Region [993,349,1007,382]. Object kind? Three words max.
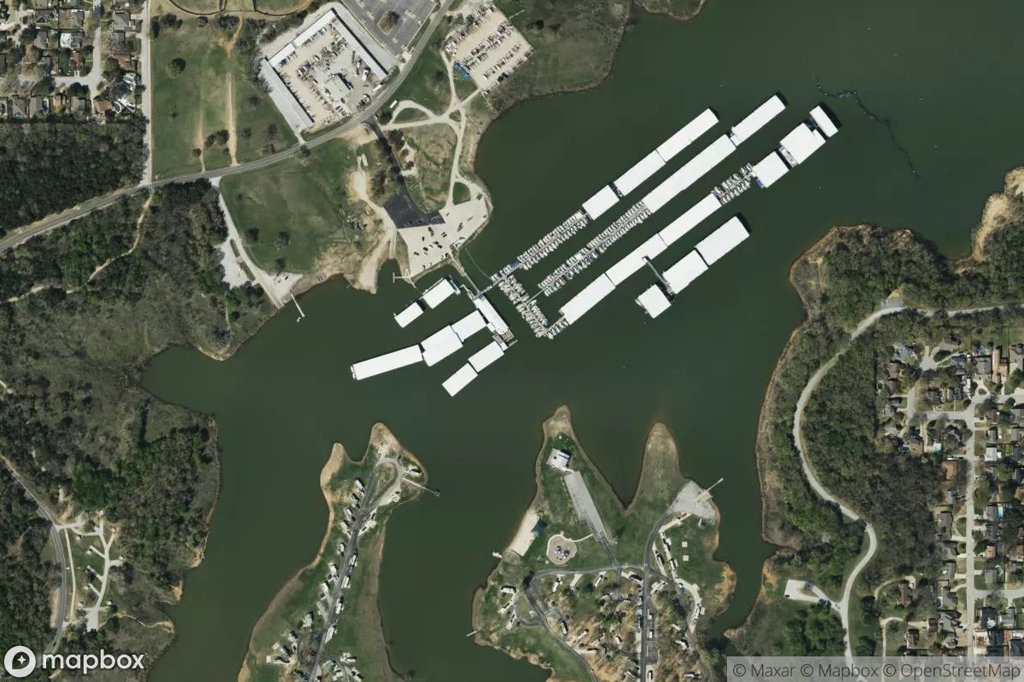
house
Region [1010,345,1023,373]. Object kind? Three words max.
house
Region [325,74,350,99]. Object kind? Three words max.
building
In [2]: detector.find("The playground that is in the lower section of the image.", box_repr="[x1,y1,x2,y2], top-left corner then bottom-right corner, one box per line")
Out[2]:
[547,534,577,565]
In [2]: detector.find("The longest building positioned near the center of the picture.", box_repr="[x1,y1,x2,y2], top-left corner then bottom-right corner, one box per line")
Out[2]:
[474,295,509,335]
